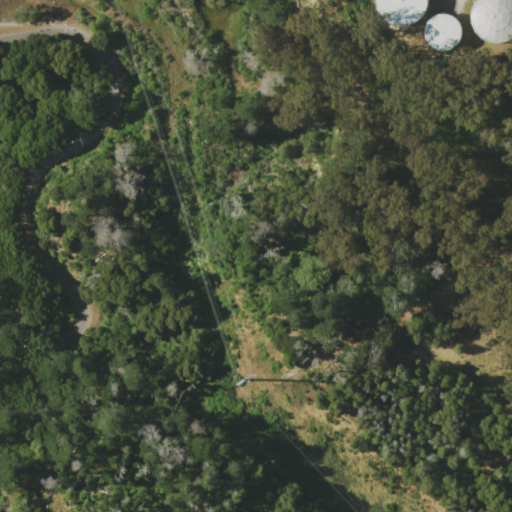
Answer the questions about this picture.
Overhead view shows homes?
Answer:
No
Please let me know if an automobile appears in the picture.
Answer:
No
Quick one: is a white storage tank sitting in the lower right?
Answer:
No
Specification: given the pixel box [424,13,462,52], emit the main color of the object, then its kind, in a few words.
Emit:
white storage tank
